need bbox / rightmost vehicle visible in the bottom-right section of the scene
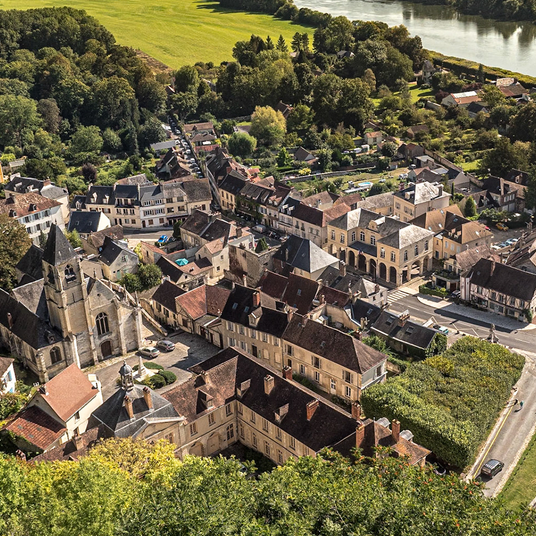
[480,456,504,479]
